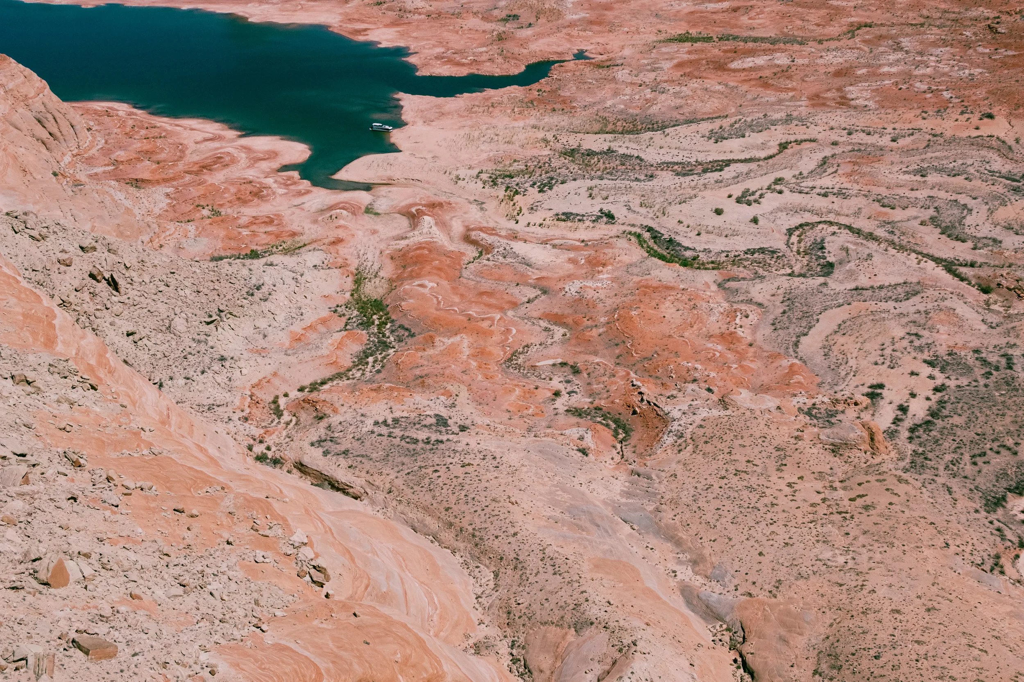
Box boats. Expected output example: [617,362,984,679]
[368,120,392,132]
